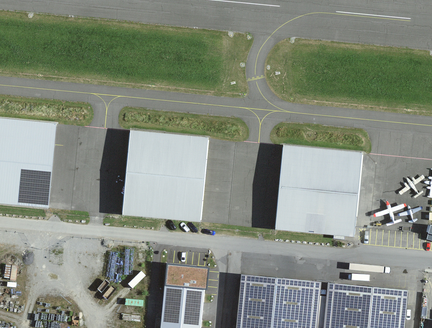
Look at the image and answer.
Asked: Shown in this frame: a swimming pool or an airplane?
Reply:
airplane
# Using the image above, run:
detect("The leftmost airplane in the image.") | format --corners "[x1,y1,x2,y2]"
[374,201,408,225]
